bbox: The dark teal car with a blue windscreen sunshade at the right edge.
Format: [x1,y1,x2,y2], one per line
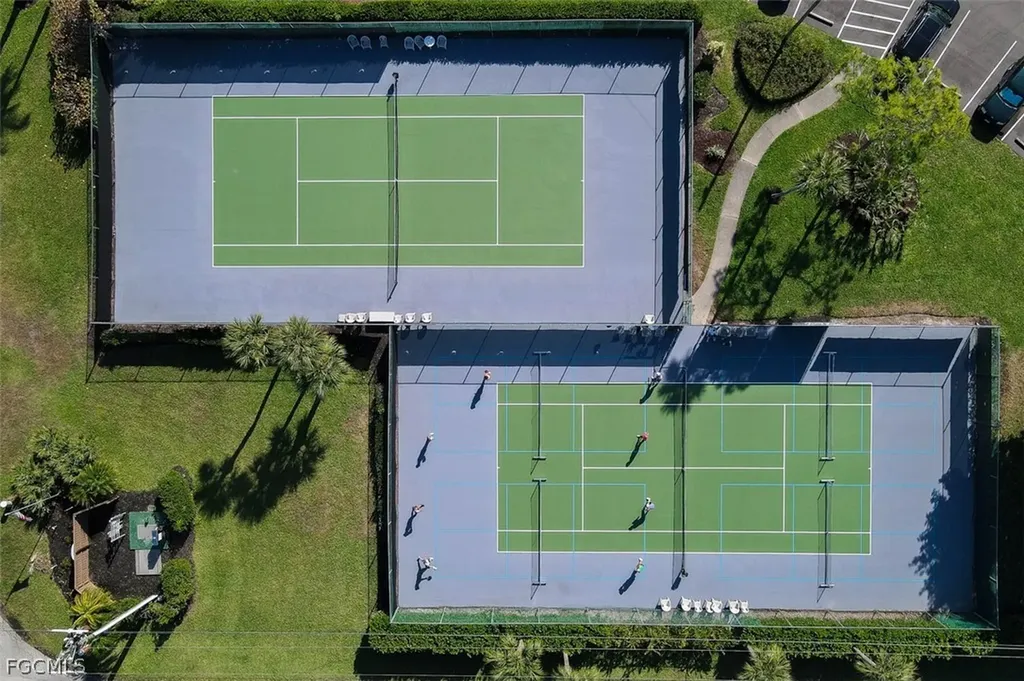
[979,56,1024,130]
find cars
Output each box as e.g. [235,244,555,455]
[979,56,1024,130]
[893,0,961,67]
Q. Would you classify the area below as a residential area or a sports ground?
sports ground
